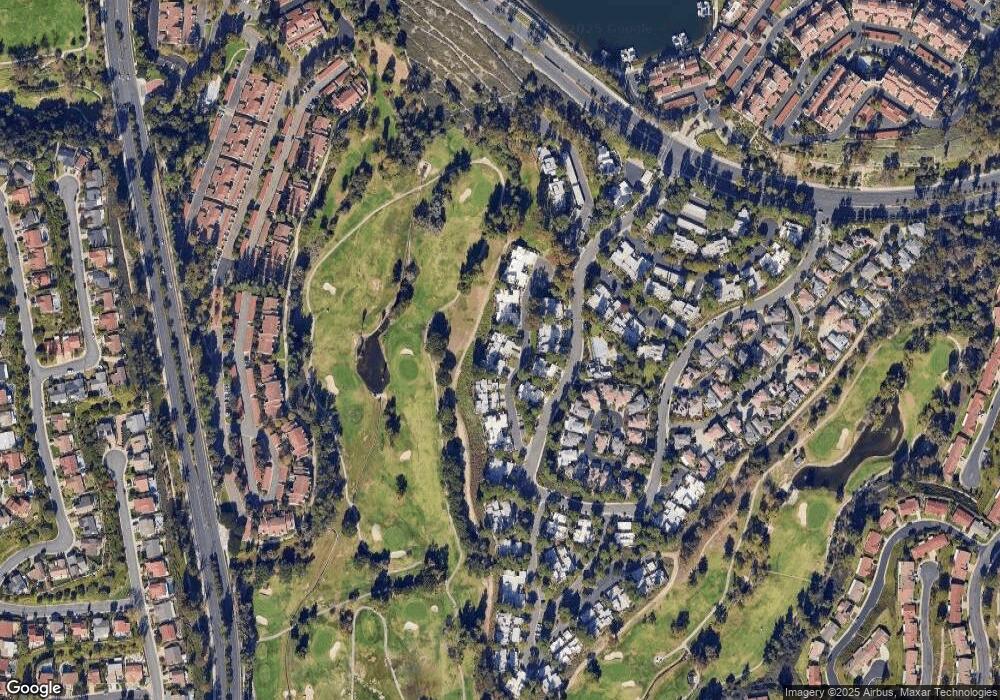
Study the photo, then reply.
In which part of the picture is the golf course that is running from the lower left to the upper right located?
bottom right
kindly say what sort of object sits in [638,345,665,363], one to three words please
building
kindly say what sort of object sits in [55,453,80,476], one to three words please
house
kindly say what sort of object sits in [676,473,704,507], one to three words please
building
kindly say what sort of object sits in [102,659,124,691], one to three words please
house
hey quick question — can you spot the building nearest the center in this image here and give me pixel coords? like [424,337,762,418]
[480,329,520,374]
